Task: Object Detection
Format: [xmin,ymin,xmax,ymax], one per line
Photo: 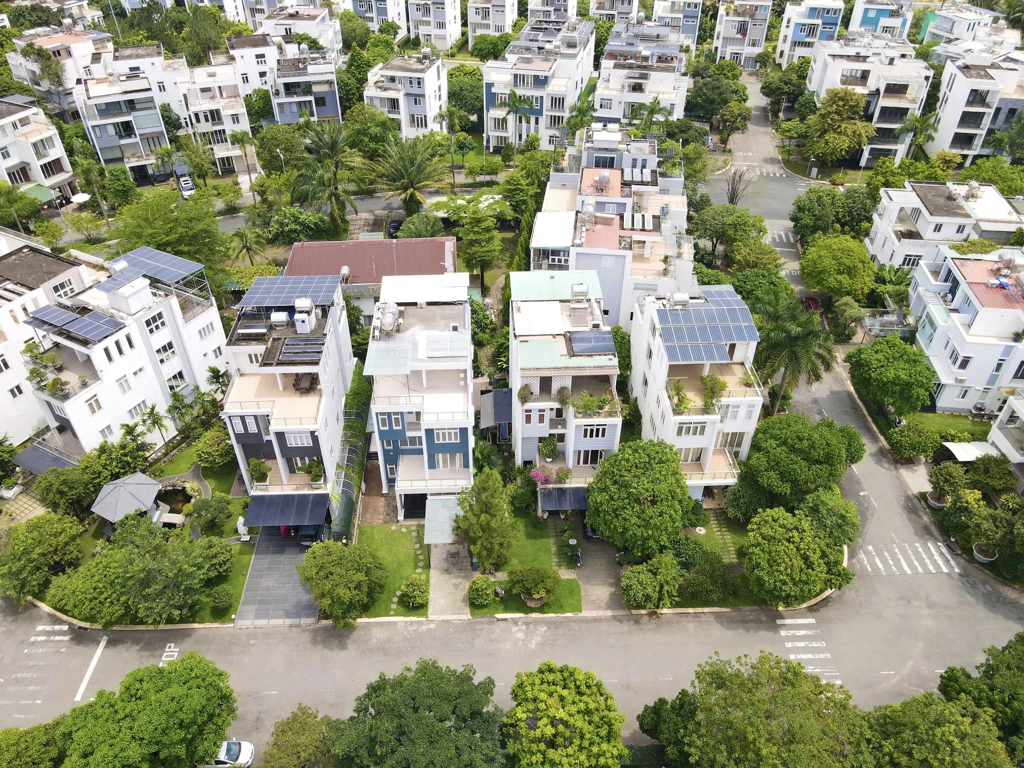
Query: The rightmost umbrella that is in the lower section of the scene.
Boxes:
[235,514,250,541]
